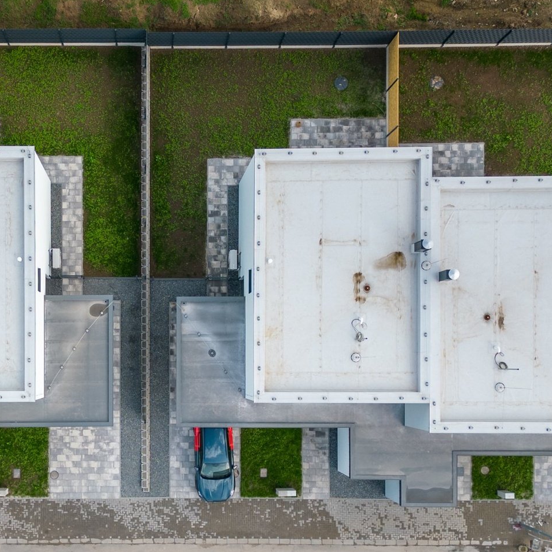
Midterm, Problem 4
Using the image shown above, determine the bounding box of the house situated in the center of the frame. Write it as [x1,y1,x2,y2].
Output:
[176,149,447,479]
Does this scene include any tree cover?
No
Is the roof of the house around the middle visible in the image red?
No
